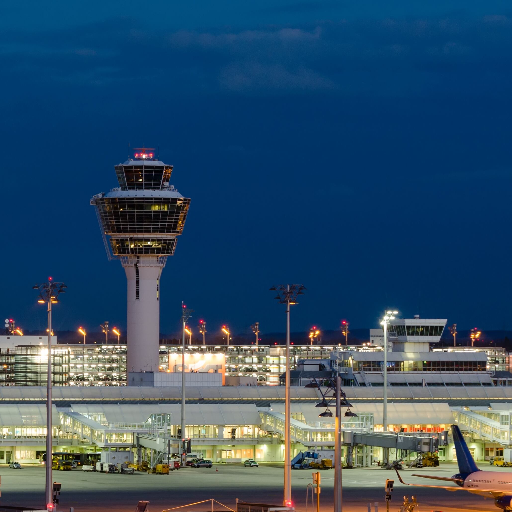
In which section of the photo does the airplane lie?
bottom right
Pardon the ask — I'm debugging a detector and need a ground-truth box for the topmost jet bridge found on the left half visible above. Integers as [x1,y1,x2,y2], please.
[127,436,199,478]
